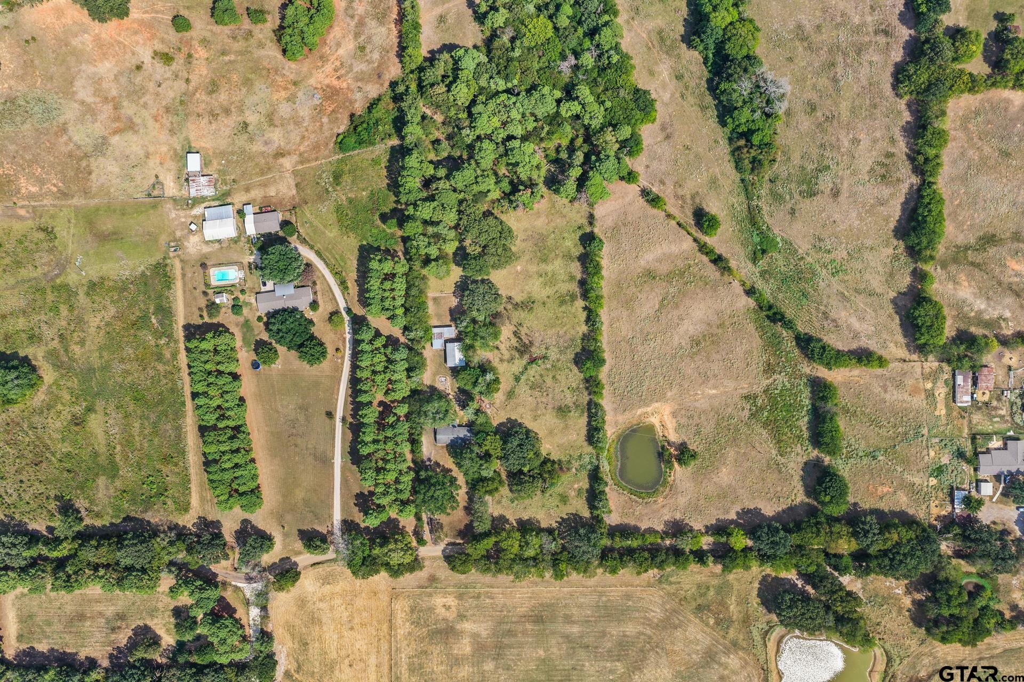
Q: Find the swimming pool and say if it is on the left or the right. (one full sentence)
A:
The swimming pool appears in the left half of the scene.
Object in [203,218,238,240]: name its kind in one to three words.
building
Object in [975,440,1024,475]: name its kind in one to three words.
house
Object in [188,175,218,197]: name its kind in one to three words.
barn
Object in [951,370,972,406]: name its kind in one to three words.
shed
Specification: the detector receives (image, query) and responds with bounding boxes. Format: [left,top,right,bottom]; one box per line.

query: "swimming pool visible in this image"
[209,265,240,286]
